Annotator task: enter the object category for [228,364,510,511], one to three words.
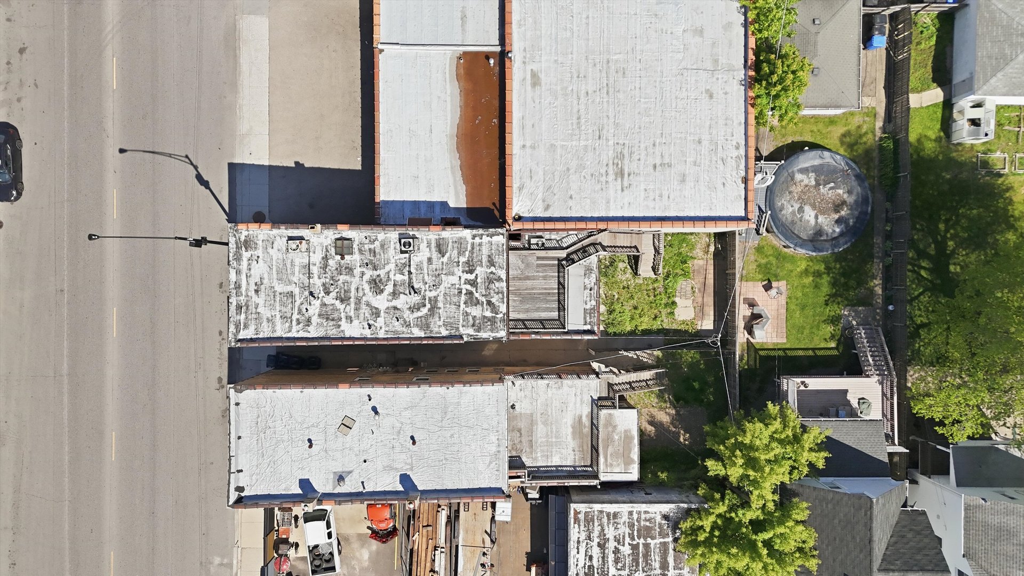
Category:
building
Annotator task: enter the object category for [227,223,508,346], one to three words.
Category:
building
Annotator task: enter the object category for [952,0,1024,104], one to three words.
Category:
house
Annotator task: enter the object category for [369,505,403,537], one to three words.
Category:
work vehicle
